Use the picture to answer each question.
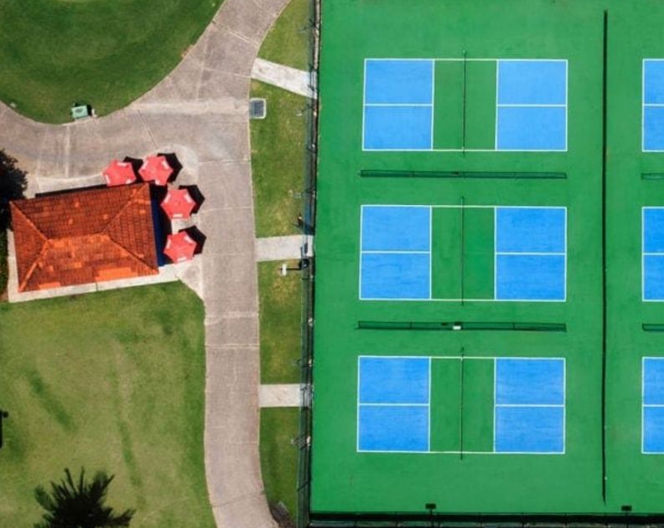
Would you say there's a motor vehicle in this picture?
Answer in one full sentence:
No, no motor vehicle is visible in the scene.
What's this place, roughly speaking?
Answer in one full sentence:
The picture captures a sports ground.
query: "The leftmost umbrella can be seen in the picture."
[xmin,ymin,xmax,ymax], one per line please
[104,156,139,187]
